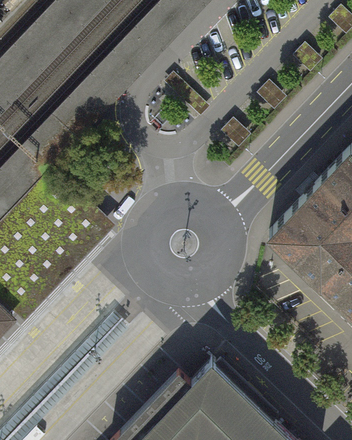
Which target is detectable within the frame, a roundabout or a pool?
roundabout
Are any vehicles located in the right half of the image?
Yes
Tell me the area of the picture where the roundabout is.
center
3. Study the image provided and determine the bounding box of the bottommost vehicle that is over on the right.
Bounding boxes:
[280,294,304,308]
